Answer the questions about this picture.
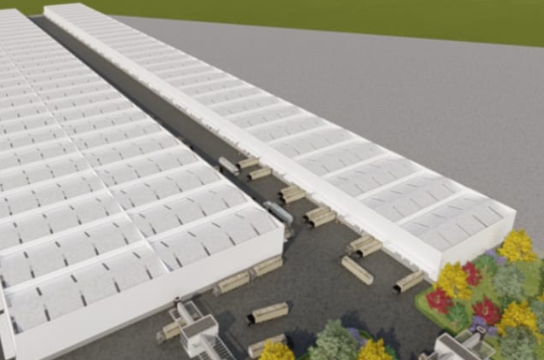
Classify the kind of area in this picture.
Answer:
industrial area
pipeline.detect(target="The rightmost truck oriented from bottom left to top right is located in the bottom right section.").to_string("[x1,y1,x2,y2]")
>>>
[392,269,425,297]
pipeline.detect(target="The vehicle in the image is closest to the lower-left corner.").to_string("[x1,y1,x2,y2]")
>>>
[156,317,188,346]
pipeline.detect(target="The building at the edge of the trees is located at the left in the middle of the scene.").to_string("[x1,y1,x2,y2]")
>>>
[0,10,284,360]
